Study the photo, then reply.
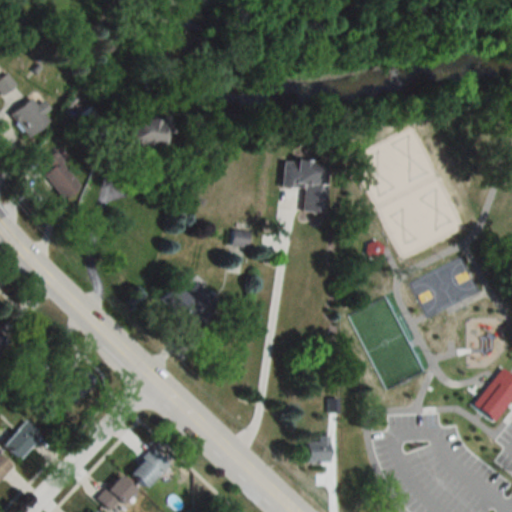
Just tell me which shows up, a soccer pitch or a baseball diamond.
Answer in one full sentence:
It is a soccer pitch that can be seen here.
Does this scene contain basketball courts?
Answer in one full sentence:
Yes, a basketball court is visible in the scene.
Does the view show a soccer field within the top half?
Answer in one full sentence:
No, I can find no soccer field within the top half.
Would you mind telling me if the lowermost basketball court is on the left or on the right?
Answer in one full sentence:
It is on the right.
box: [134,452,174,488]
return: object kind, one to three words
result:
house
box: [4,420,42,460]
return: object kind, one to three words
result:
house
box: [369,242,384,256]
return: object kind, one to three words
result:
gazebo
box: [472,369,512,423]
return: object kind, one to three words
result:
building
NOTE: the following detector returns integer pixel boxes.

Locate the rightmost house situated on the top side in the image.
[285,158,326,211]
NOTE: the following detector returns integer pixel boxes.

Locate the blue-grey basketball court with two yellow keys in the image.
[410,258,480,318]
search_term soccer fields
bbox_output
[349,296,424,390]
